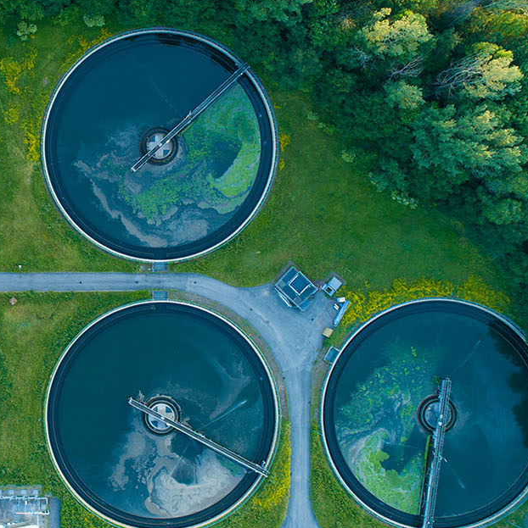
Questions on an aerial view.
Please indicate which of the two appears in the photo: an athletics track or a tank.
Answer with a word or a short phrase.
tank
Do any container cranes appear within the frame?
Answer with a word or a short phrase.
No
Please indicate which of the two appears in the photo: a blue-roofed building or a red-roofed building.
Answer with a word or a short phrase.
blue-roofed building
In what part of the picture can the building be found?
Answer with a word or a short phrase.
center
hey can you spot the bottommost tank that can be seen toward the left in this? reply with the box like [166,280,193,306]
[45,299,283,528]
